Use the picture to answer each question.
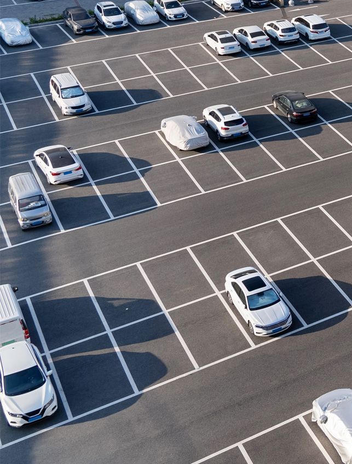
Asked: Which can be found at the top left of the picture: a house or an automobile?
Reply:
automobile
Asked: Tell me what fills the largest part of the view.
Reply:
paved ground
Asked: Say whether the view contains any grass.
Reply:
No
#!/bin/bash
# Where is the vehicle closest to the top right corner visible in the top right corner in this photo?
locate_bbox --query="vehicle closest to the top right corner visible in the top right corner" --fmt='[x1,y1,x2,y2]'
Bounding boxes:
[291,14,329,42]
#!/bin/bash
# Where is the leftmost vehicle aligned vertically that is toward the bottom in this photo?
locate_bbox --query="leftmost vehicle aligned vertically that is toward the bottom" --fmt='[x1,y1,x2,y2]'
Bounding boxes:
[0,287,26,351]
